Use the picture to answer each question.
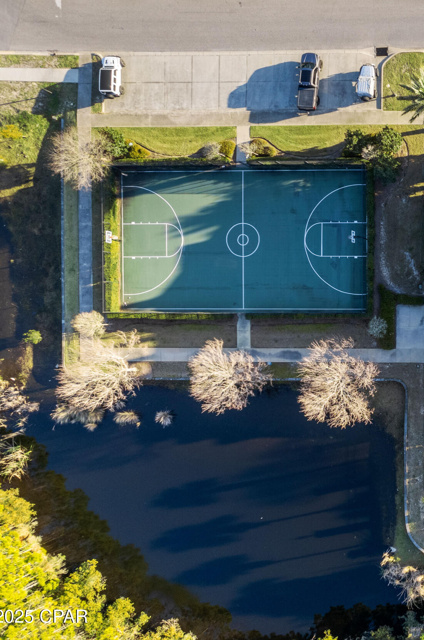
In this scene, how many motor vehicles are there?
three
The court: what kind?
basketball court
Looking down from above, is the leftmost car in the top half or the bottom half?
top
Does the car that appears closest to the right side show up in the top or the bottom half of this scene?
top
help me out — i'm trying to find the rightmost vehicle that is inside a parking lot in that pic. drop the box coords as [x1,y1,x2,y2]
[357,66,380,106]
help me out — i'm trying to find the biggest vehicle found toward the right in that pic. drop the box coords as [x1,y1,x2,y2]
[298,55,323,114]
